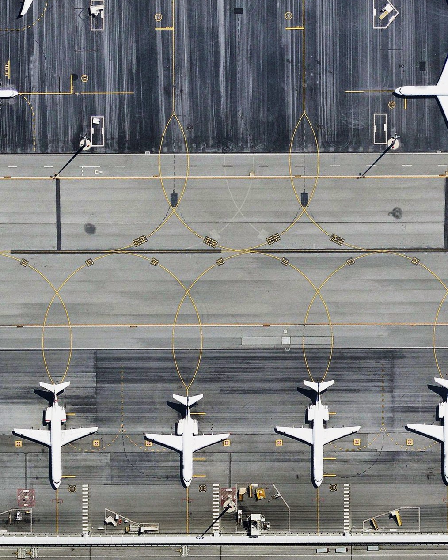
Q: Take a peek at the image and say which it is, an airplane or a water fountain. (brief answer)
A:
airplane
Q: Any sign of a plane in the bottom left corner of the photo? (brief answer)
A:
Yes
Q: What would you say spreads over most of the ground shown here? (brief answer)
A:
paved ground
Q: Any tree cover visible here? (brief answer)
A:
No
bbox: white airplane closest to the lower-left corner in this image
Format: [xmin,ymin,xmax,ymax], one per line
[13,381,98,489]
